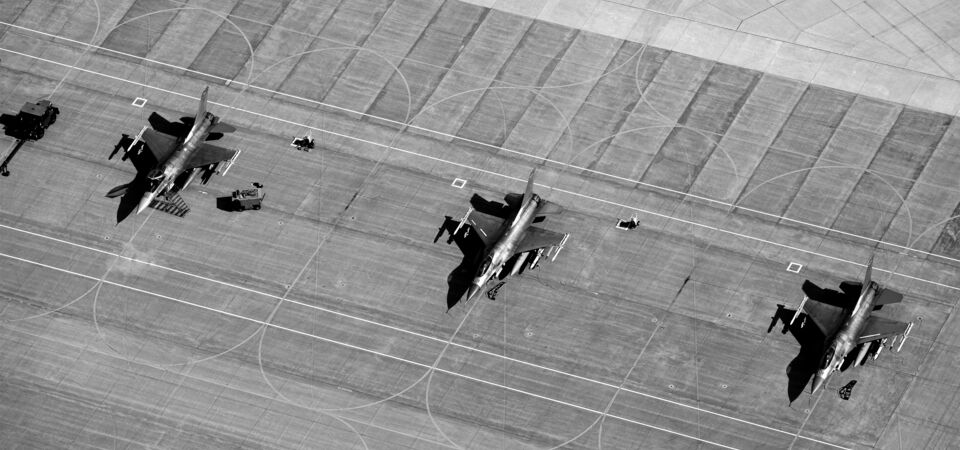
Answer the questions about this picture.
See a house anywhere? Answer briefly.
No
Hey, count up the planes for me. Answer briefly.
3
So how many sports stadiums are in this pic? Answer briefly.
0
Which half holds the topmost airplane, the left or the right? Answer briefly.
left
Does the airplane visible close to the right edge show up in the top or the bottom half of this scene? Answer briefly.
bottom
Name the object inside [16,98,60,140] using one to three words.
work vehicle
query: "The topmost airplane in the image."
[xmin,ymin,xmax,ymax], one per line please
[128,87,242,216]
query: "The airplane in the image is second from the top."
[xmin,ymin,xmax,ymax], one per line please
[452,170,571,302]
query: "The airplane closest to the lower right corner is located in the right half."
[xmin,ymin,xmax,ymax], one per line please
[790,256,914,396]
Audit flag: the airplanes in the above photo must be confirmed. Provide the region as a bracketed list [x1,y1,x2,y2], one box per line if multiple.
[452,170,571,302]
[790,256,914,396]
[128,87,242,216]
